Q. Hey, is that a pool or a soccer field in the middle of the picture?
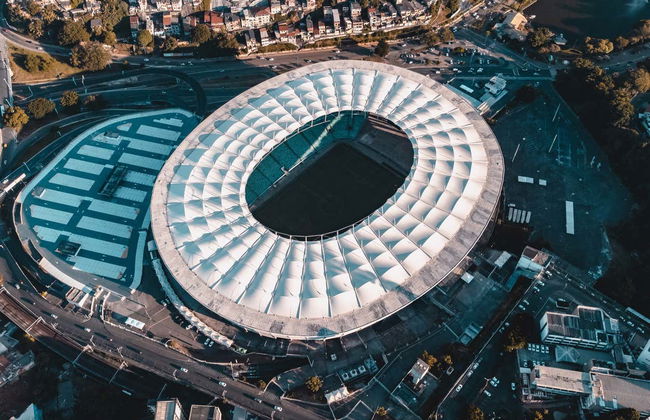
soccer field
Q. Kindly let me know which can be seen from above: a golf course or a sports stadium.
sports stadium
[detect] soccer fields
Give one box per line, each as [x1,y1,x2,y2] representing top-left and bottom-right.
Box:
[252,132,406,239]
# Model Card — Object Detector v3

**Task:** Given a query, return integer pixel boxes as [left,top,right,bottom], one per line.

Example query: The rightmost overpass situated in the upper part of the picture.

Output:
[90,63,206,117]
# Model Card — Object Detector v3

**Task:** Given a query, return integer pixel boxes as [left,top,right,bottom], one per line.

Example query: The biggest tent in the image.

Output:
[322,386,351,407]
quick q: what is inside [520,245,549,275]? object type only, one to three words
building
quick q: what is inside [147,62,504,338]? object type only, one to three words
stadium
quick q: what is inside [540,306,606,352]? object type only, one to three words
building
